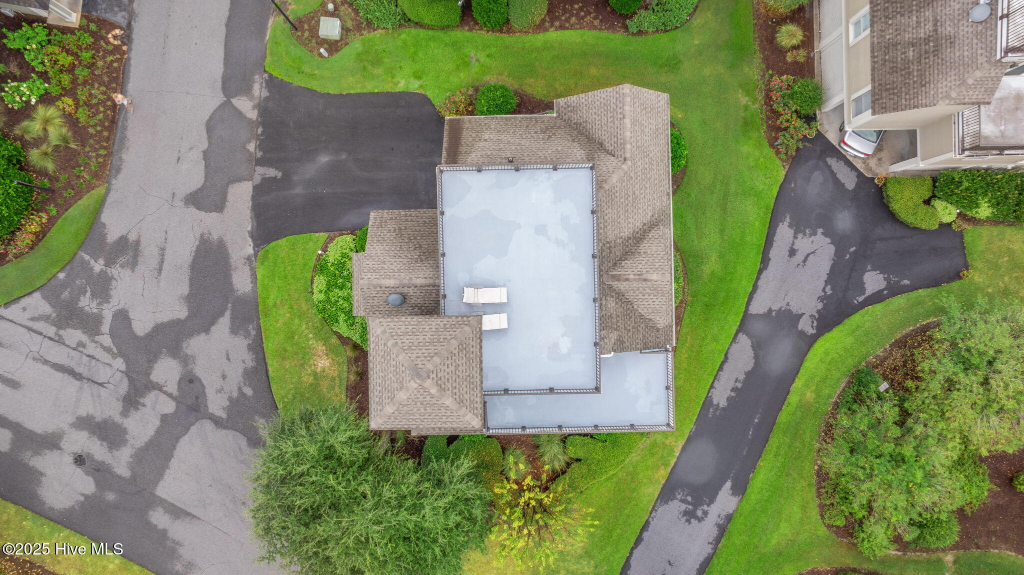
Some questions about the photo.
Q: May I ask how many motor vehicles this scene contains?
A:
1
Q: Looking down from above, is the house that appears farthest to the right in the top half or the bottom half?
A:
top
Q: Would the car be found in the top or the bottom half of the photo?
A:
top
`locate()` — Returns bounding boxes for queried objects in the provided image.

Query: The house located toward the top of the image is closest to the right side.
[814,0,1024,174]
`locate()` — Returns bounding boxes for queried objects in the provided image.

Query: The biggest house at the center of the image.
[352,83,679,437]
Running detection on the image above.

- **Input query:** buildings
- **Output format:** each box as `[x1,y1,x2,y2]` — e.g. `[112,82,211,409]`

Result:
[0,0,81,26]
[814,0,1024,174]
[352,83,679,437]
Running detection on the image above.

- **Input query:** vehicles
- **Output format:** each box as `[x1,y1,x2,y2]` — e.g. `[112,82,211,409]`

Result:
[839,130,887,161]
